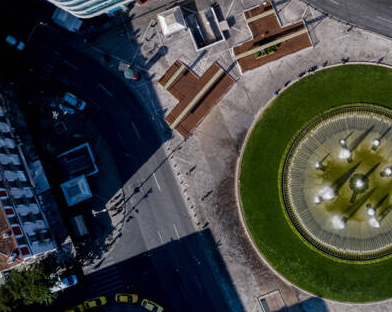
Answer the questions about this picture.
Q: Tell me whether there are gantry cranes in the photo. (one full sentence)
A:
No, the frame has no gantry crane in it.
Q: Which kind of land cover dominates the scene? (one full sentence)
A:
What you mostly see from above here is paved ground.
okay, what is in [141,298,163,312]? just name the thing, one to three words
vehicle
